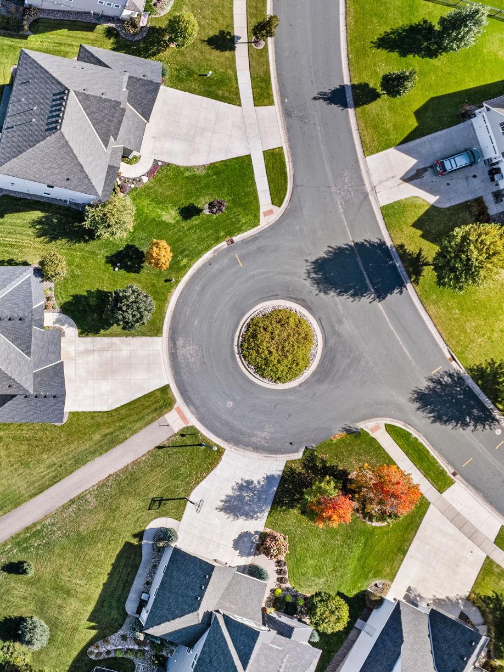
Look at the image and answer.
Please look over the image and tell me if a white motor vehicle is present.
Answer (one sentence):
No, I can't see a single white motor vehicle in this photo.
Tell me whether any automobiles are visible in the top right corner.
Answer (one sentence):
Yes, an automobile appears in the top right corner.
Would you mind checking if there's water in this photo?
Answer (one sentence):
No, there's no water in this view.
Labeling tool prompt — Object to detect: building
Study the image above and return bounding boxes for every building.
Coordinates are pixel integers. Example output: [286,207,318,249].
[0,44,161,200]
[141,546,322,672]
[470,96,504,198]
[345,598,490,672]
[0,0,146,25]
[0,267,66,423]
